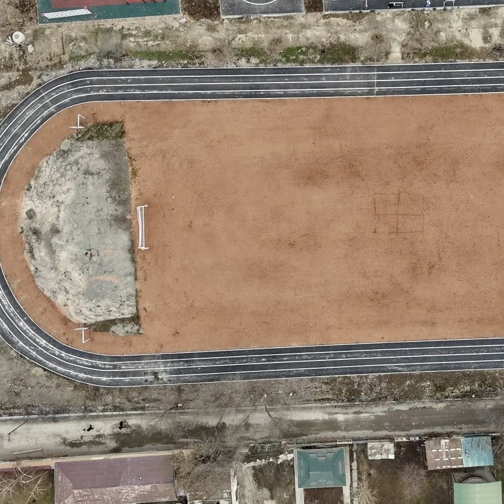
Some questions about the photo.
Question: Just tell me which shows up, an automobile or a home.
home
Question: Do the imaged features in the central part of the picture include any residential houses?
No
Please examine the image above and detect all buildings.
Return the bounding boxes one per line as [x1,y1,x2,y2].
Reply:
[55,449,178,504]
[423,430,493,470]
[297,443,346,488]
[367,437,395,460]
[450,475,502,504]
